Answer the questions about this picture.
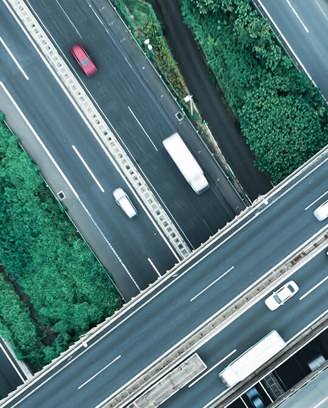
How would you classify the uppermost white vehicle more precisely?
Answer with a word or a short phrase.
truck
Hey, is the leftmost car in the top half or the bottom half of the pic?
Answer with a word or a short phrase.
top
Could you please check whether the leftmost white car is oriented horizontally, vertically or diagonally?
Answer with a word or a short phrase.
diagonally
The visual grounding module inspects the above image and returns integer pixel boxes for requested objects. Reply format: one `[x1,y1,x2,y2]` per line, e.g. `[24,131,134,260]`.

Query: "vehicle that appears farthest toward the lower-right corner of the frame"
[304,347,321,366]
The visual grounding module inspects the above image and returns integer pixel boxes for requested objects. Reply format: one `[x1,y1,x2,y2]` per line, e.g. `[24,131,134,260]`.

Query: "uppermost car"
[71,42,96,77]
